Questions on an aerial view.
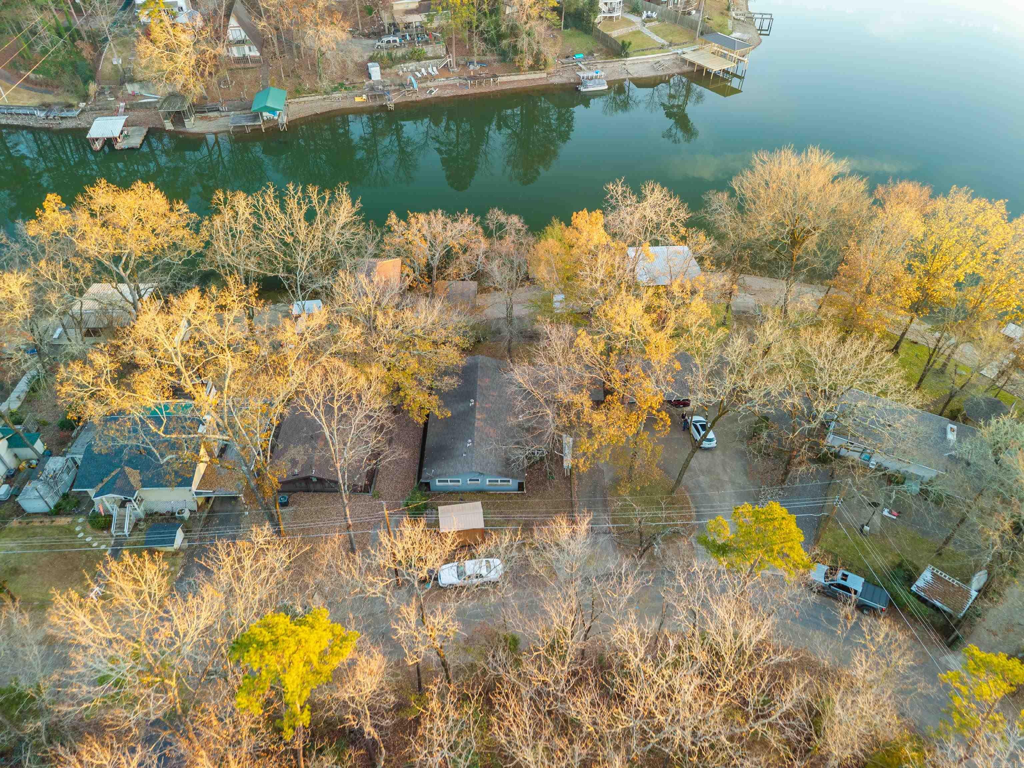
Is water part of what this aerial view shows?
Yes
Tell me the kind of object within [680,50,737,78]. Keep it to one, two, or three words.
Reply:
pier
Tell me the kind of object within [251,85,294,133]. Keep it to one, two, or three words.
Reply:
building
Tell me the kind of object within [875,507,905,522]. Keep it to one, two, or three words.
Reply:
work vehicle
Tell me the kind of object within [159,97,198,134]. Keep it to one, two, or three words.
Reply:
building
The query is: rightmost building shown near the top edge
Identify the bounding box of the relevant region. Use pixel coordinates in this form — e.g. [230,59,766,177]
[700,29,754,73]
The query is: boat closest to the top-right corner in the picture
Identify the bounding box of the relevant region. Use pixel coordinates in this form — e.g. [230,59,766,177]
[578,79,607,92]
